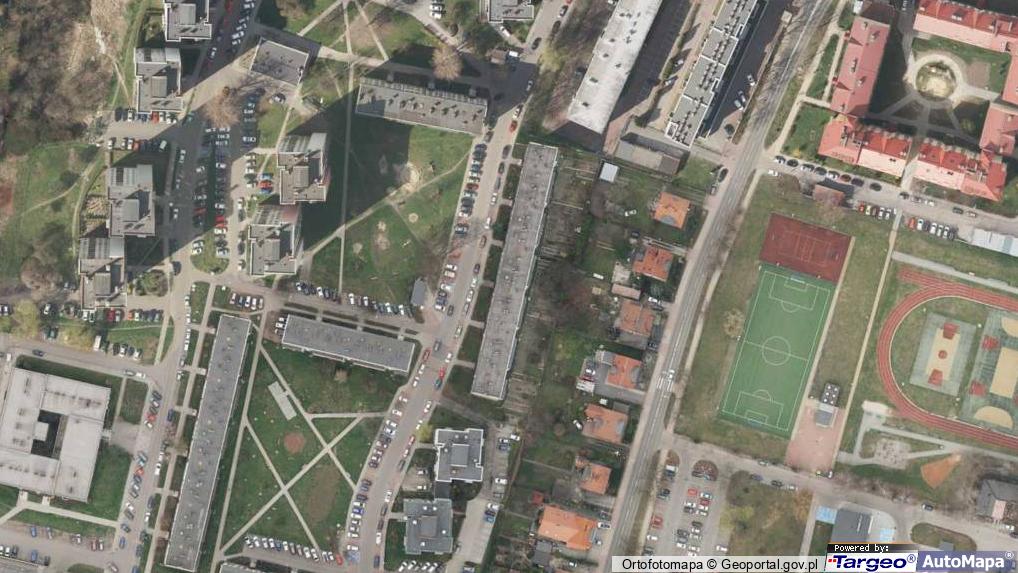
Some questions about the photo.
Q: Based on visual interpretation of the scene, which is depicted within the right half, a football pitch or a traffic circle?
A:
football pitch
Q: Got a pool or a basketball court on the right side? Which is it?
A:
basketball court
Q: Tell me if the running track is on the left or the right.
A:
right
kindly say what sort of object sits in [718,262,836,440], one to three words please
soccer field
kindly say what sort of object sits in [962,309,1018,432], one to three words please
sports court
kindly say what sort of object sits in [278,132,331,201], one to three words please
building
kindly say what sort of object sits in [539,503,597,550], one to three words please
house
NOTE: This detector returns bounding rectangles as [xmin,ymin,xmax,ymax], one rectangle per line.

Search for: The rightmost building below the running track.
[977,477,1018,524]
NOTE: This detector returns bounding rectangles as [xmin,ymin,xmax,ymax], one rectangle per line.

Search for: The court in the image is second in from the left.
[911,313,977,396]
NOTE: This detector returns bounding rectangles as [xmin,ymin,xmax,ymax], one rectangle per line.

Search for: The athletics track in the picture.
[878,277,1018,448]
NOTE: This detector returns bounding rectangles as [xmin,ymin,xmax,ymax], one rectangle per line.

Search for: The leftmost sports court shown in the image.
[761,213,852,283]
